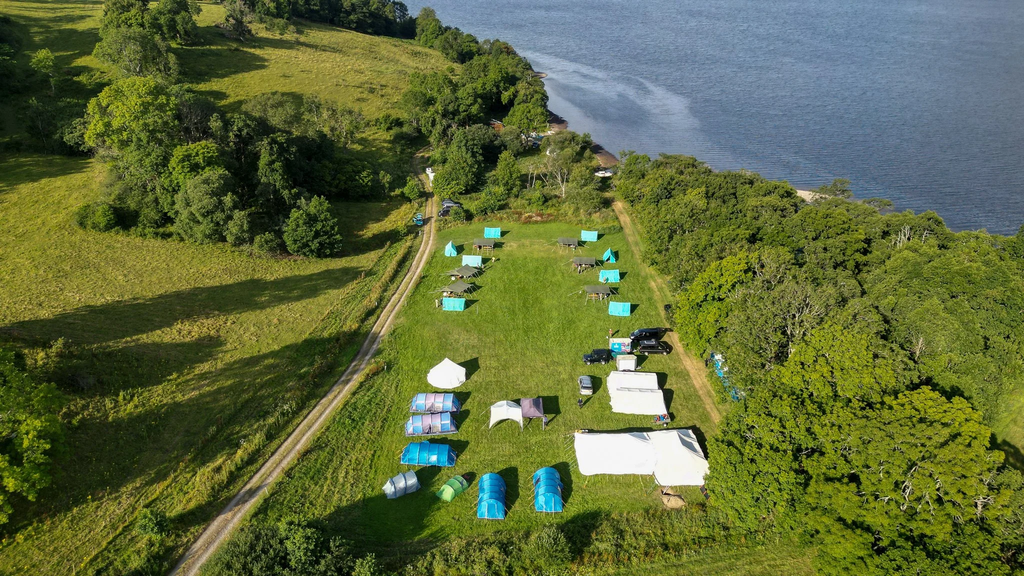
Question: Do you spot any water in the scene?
Yes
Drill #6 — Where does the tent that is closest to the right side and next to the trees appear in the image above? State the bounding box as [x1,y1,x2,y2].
[647,430,710,497]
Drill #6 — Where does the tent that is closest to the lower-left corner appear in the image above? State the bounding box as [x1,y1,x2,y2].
[378,466,422,499]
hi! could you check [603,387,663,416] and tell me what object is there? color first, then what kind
white tent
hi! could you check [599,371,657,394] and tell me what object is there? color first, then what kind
white tent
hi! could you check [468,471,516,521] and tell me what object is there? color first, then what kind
blue tent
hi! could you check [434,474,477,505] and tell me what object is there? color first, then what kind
green tent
